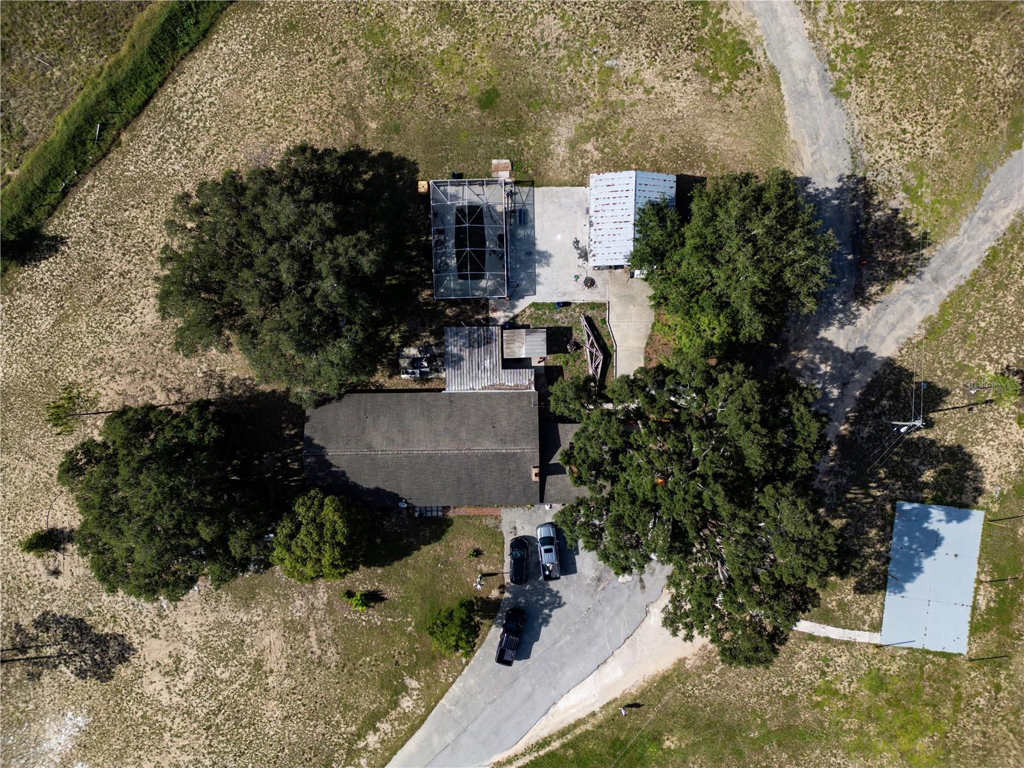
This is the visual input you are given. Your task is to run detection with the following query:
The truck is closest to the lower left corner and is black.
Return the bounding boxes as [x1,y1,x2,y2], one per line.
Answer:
[495,608,524,671]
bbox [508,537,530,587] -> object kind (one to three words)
car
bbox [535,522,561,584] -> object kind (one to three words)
truck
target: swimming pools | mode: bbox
[452,203,488,282]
